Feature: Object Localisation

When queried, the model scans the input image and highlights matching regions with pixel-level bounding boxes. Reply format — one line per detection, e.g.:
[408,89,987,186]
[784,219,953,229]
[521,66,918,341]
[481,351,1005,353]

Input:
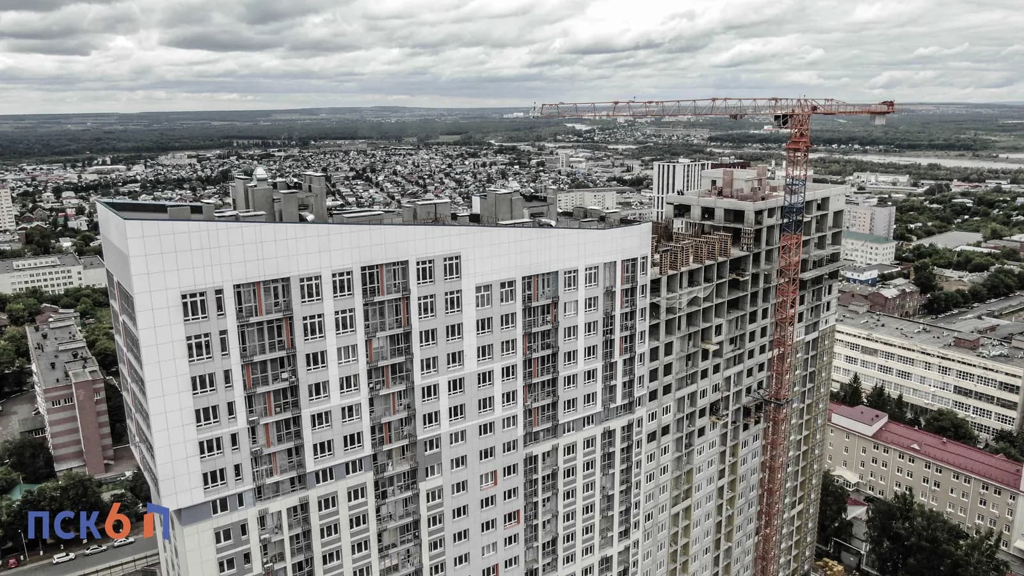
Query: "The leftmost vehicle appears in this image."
[3,554,22,569]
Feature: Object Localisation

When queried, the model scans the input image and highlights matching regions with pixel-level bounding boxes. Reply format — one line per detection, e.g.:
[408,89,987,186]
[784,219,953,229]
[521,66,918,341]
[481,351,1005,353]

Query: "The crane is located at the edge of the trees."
[534,85,901,576]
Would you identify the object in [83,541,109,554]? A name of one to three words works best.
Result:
vehicle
